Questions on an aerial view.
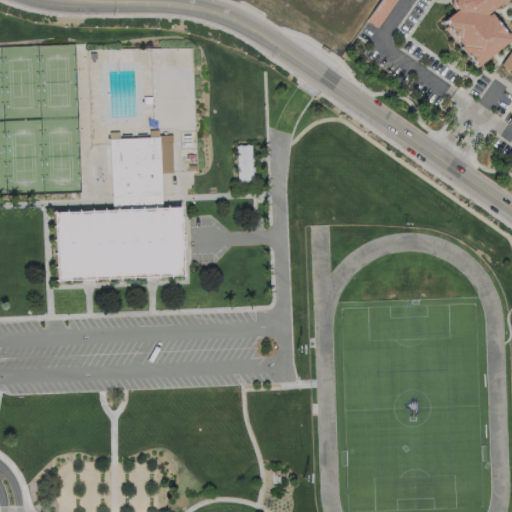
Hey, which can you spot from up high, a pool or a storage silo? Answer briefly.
pool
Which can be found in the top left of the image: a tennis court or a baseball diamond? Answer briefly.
tennis court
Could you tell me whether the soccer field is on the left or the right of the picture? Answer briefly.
right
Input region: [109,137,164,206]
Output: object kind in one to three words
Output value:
building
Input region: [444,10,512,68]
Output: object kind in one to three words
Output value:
building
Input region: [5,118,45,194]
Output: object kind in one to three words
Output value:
tennis court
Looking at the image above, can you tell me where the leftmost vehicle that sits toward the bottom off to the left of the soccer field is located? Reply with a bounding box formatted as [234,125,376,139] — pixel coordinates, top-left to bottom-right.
[150,342,164,363]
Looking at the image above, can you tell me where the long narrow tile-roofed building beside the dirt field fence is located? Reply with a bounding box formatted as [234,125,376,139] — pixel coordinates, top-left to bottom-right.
[368,0,399,28]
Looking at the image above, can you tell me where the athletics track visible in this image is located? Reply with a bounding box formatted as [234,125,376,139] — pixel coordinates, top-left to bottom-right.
[312,226,509,512]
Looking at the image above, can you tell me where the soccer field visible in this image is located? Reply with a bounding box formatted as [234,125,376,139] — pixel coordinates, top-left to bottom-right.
[334,298,492,512]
